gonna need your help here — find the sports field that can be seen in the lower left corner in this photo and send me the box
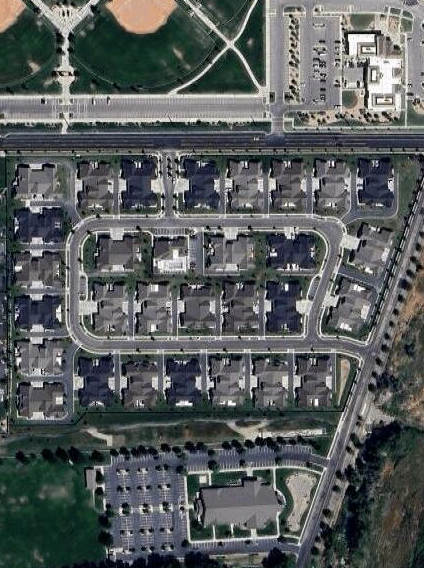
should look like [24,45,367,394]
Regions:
[0,454,111,568]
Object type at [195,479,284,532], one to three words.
building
